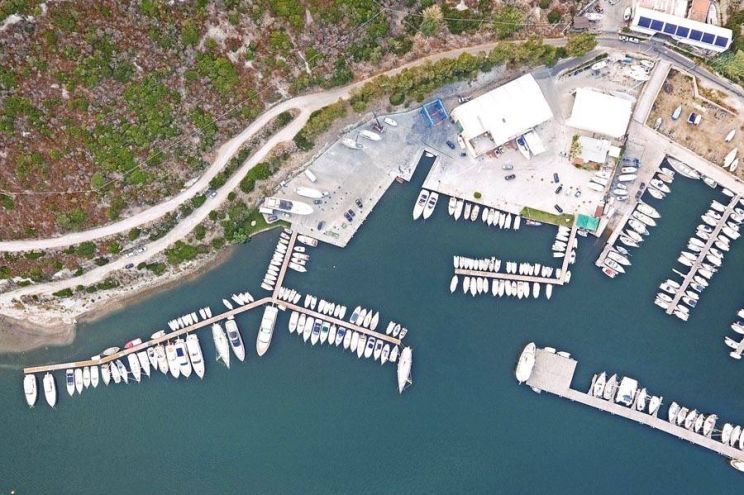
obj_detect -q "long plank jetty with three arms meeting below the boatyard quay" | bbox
[23,230,401,374]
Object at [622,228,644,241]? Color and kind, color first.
white boat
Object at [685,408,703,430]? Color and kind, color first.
white boat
